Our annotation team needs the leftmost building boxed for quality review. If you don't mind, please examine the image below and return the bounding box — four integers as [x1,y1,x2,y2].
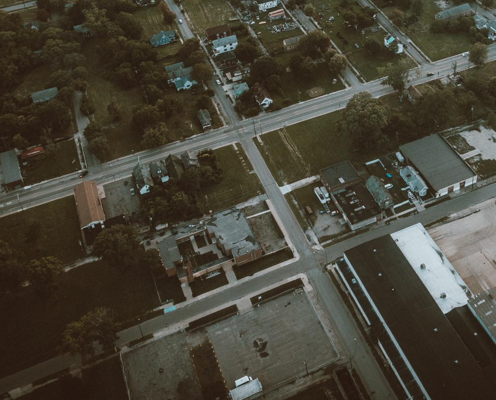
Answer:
[0,149,24,191]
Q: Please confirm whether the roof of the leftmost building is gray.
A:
Yes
